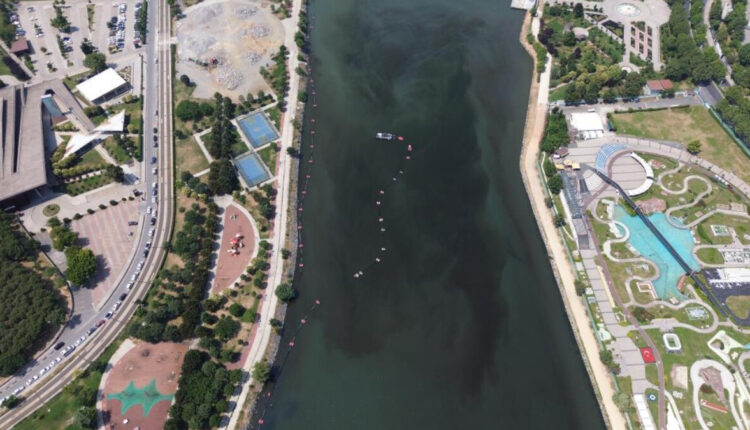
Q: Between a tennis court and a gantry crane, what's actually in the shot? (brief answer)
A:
tennis court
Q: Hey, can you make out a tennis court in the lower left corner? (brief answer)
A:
No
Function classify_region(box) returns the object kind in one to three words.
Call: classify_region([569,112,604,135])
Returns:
building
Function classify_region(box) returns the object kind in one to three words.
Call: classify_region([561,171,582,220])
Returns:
building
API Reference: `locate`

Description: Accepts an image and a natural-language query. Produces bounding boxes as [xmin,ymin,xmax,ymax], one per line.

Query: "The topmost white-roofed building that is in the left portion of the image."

[76,67,127,105]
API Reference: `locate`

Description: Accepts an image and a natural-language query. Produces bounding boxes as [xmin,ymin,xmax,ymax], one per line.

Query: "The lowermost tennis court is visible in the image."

[232,149,272,186]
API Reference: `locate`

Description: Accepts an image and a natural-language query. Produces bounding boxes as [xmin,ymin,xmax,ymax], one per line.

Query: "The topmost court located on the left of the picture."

[234,105,281,149]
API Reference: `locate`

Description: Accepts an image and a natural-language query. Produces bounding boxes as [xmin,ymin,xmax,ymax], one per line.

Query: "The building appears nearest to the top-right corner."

[645,79,673,96]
